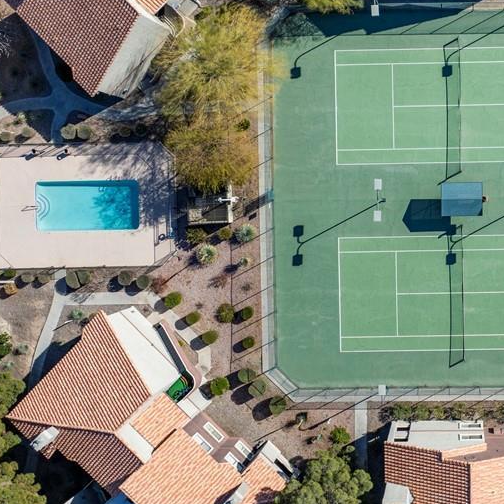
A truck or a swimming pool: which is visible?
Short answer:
swimming pool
